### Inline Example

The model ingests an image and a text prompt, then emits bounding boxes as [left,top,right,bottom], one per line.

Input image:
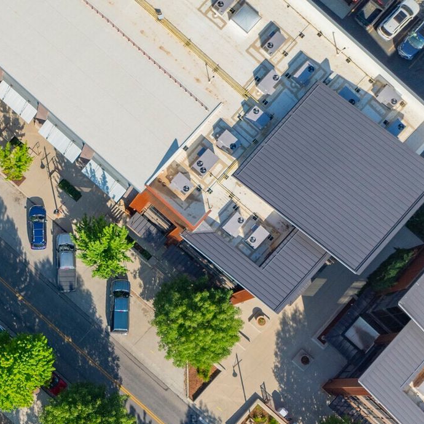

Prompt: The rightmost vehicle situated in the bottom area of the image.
[112,280,134,334]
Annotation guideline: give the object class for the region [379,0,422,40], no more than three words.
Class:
car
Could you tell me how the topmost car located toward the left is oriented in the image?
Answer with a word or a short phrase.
up and down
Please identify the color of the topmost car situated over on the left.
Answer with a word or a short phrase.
blue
